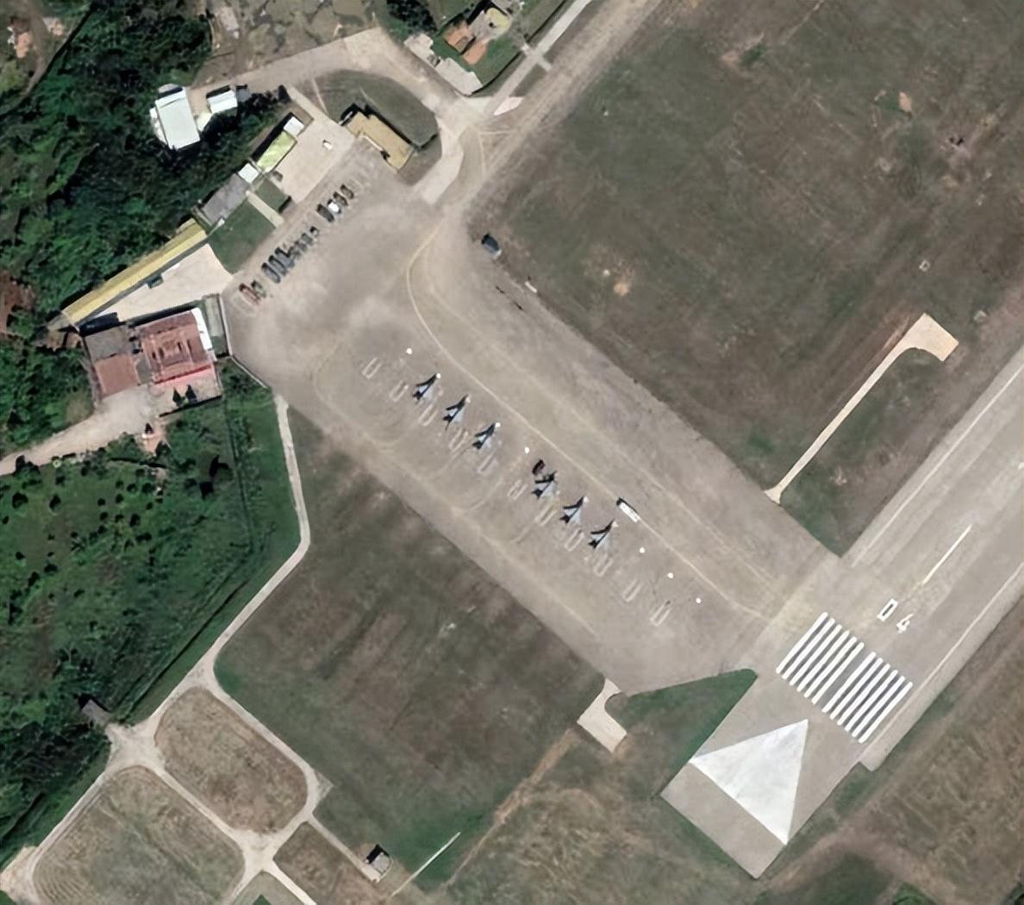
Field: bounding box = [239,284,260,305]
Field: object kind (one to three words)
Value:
truck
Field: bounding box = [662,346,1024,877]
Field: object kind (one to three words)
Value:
runway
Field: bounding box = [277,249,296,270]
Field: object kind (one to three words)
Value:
vehicle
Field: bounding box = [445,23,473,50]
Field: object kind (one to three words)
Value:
house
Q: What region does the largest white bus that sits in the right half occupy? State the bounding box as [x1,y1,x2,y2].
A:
[618,502,641,523]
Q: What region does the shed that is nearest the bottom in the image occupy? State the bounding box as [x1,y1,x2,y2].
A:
[363,854,392,879]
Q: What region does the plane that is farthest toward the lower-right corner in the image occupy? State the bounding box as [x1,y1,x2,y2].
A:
[589,521,614,550]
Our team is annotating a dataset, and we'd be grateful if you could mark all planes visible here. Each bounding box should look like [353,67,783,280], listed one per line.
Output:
[531,472,556,502]
[472,424,498,455]
[413,376,438,405]
[443,395,469,425]
[559,496,586,528]
[589,521,614,550]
